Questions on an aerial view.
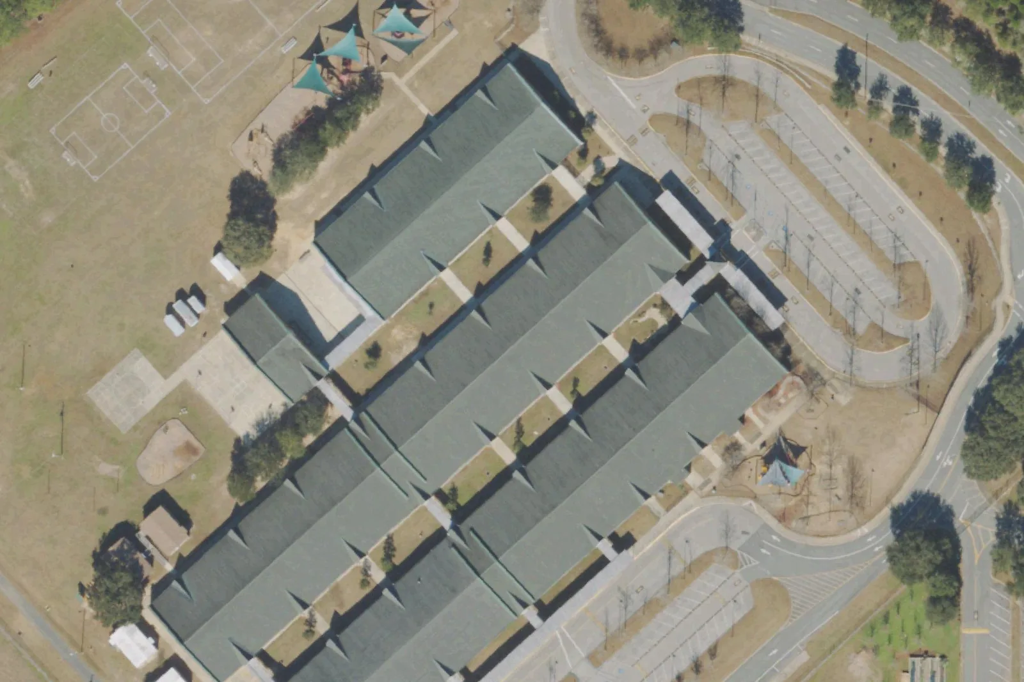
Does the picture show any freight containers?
Yes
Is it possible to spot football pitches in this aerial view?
Yes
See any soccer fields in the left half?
Yes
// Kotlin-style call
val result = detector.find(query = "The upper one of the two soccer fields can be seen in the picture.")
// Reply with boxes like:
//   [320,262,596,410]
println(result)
[116,0,324,102]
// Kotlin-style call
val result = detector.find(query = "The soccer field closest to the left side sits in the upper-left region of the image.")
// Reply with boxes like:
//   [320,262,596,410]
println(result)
[52,64,169,178]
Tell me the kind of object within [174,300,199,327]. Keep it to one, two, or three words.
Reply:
shipping container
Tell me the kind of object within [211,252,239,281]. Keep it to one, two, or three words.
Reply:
shed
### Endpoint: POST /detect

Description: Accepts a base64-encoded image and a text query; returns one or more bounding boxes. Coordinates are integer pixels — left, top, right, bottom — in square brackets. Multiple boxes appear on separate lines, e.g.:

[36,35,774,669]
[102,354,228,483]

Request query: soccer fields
[116,0,324,102]
[52,64,169,178]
